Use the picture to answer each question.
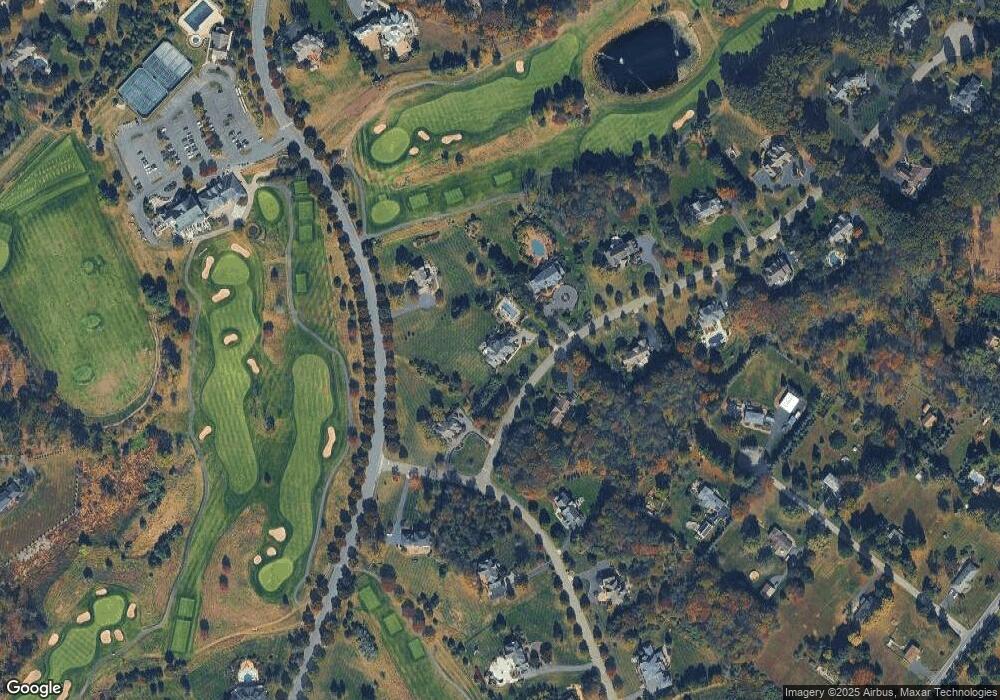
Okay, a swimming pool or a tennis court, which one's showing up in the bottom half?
swimming pool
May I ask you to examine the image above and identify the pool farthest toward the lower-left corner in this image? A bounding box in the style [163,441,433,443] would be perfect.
[238,658,259,684]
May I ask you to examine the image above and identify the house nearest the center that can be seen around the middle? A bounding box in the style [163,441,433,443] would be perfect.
[478,330,521,366]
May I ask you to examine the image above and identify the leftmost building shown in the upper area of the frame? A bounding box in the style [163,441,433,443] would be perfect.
[2,34,39,65]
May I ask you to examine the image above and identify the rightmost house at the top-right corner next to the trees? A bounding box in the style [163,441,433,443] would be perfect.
[950,70,986,113]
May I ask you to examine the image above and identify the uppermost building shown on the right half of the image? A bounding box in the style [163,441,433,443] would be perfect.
[892,4,919,35]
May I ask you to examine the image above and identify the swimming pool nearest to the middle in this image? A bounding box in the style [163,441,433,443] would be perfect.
[495,296,520,324]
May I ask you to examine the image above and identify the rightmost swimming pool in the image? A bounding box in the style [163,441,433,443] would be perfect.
[825,252,842,268]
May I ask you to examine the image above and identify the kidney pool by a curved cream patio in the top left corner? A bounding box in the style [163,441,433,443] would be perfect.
[33,54,51,74]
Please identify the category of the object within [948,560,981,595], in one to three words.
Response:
barn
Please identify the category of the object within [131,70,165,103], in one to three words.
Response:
tennis court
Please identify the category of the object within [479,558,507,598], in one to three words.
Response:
house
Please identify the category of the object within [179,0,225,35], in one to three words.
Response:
swimming pool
